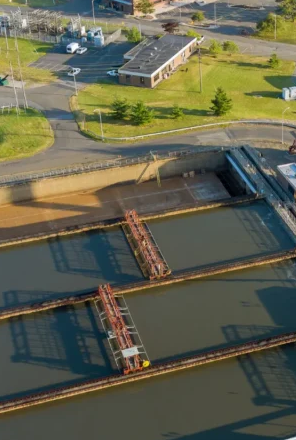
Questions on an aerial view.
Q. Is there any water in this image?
Yes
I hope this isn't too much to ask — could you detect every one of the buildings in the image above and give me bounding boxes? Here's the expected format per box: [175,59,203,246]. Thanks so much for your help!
[276,163,296,211]
[110,32,200,87]
[76,0,140,15]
